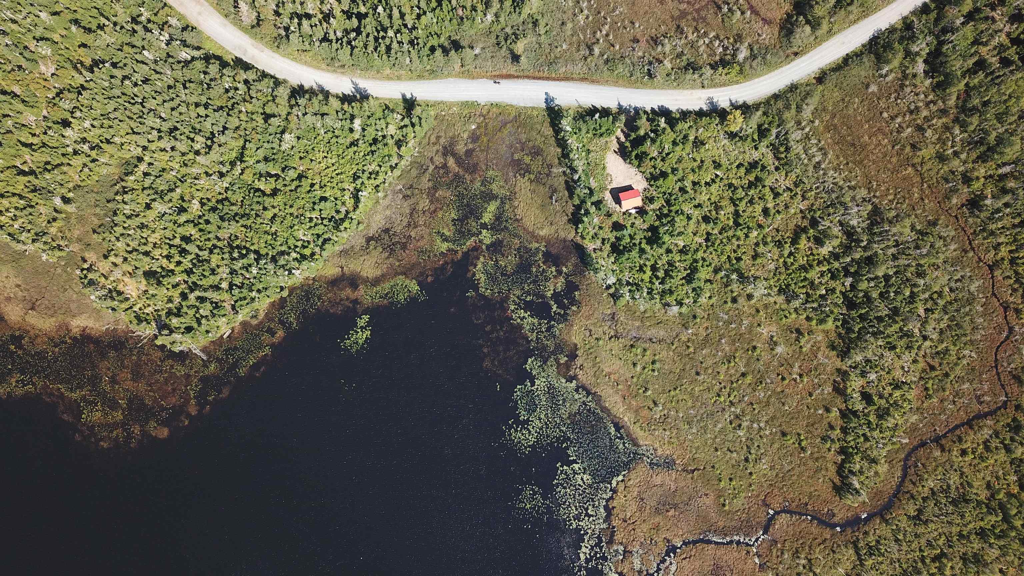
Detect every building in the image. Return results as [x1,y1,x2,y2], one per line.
[619,190,642,211]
